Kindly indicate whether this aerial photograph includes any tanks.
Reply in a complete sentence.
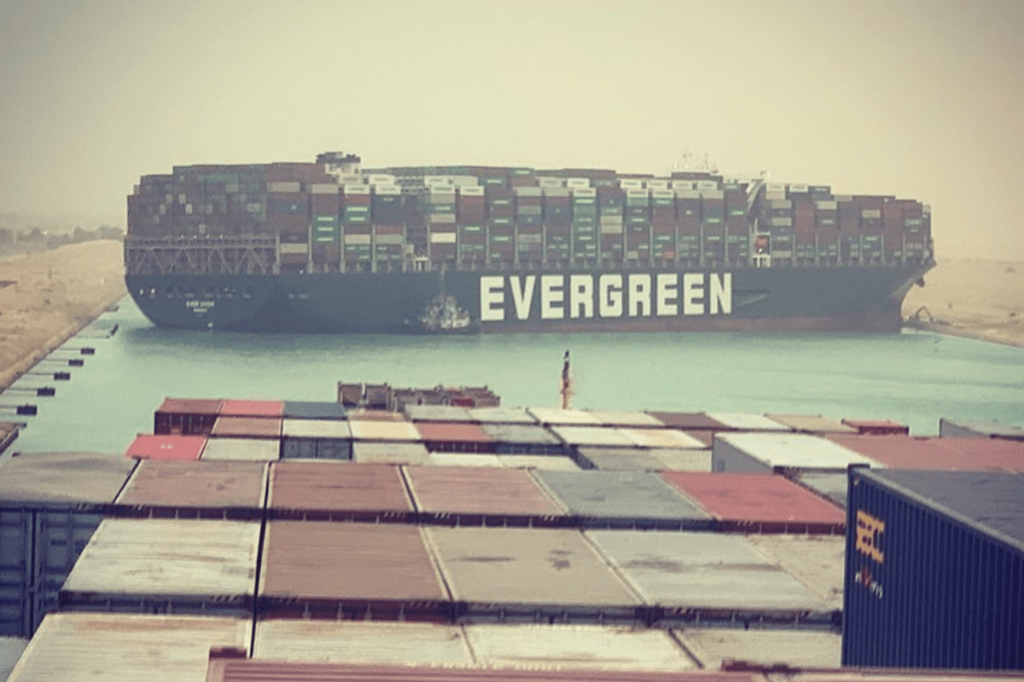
No, I can't see a single tank in this photo.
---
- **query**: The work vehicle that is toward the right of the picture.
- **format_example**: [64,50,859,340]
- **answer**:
[909,304,937,321]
